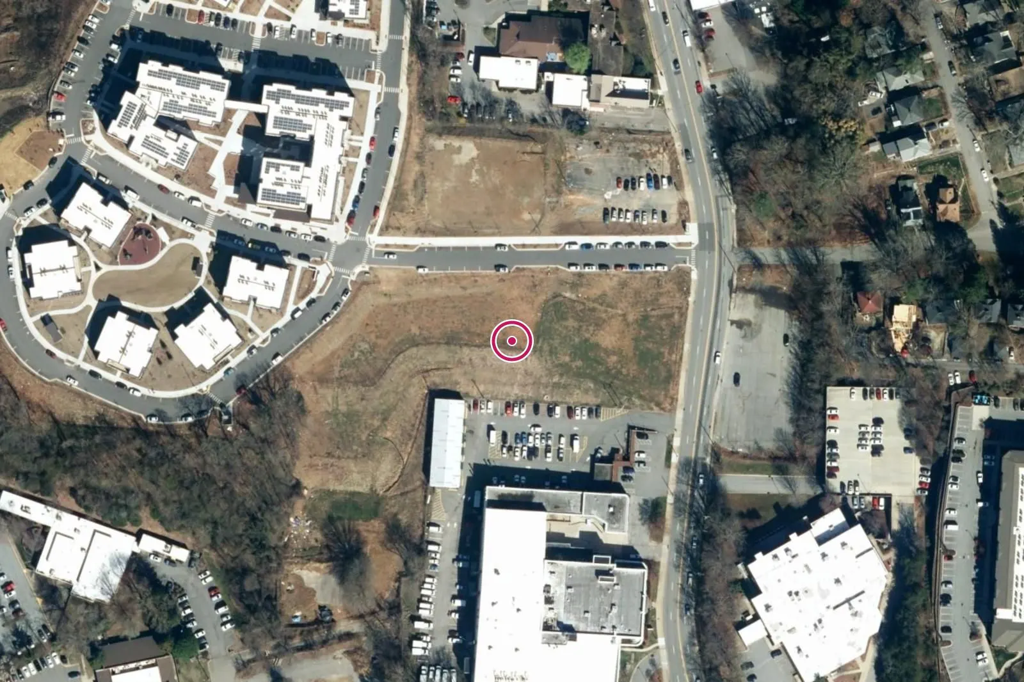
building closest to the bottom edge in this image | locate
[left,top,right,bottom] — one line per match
[95,636,176,682]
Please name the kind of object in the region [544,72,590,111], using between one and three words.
building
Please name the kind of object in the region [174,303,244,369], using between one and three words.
house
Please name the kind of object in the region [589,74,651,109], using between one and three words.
building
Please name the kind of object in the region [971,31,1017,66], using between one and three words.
house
